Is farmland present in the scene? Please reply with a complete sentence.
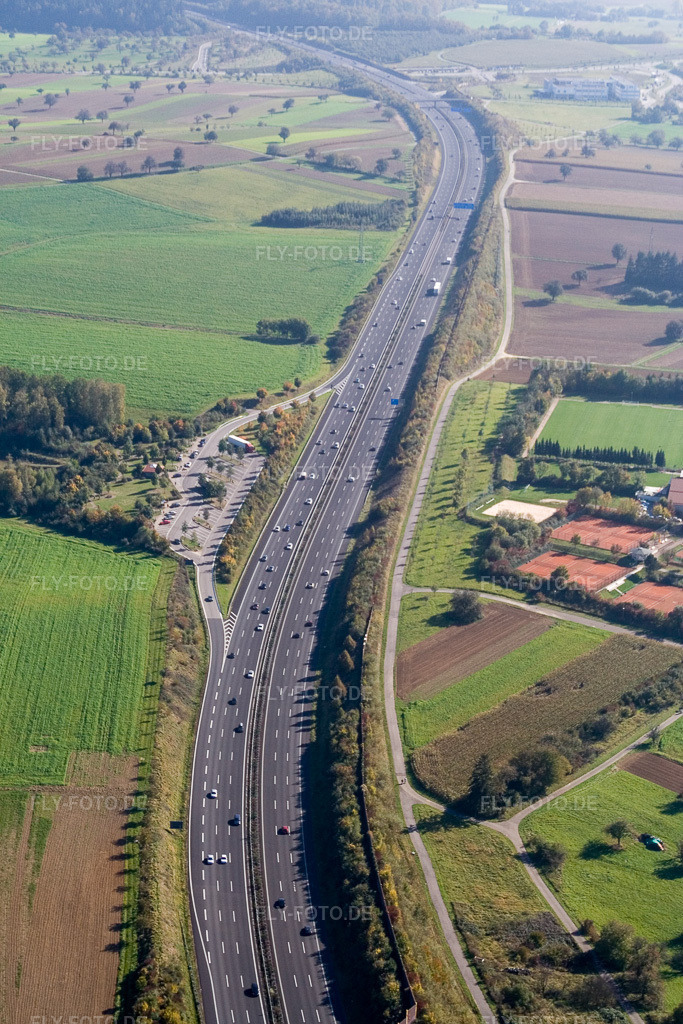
Yes, there is farmland in the image.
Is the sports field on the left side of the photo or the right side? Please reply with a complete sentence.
The sports field is on the right side of the image.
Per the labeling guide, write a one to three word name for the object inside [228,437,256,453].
vehicle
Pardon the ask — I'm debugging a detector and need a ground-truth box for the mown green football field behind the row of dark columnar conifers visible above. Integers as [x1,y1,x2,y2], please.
[530,397,683,463]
